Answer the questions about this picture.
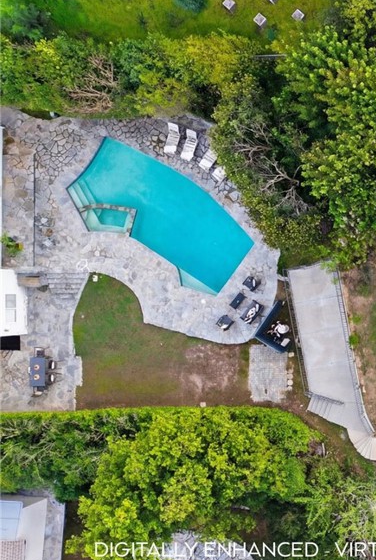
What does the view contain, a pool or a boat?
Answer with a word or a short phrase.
pool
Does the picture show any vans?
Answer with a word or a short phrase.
No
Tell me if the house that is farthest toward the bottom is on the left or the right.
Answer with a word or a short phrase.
left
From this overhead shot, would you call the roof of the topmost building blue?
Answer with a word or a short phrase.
No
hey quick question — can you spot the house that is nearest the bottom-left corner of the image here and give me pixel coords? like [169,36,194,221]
[0,498,49,560]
